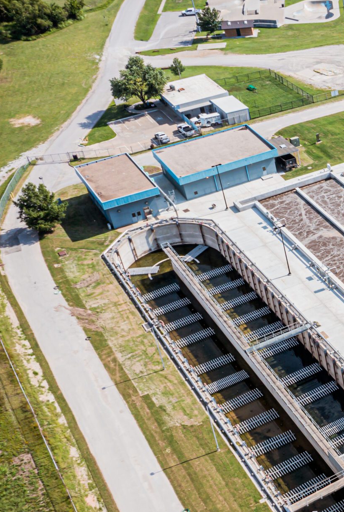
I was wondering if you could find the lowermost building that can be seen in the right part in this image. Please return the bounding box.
[152,123,298,200]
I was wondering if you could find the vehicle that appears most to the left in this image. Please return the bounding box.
[152,129,170,143]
